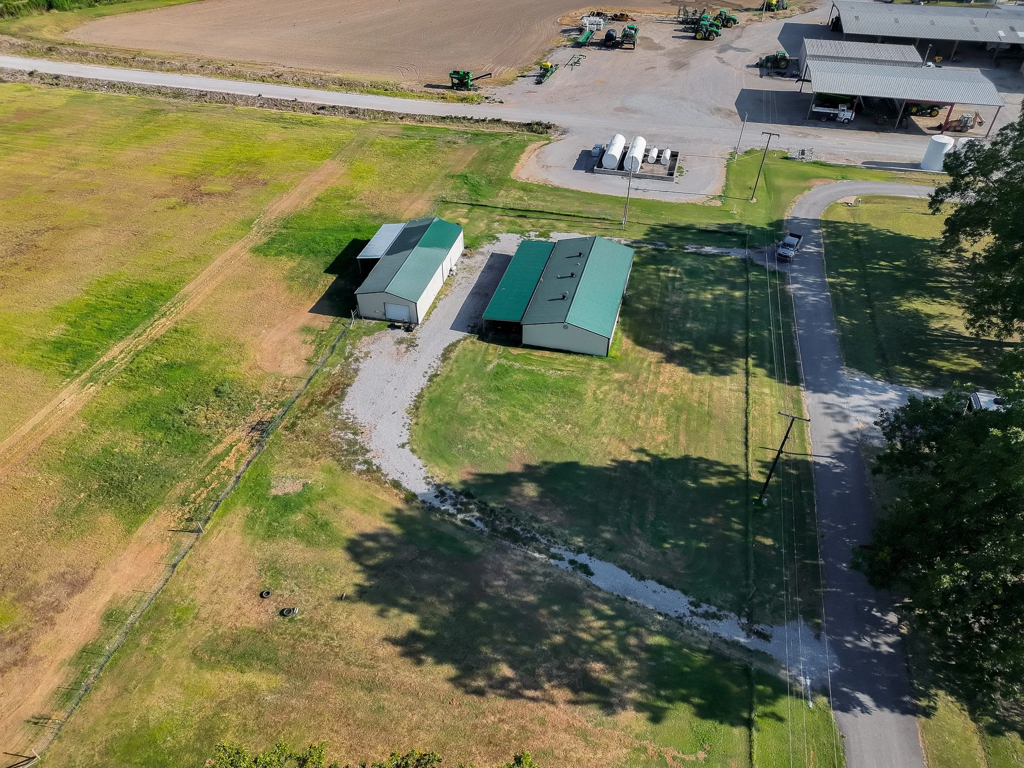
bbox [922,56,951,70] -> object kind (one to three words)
vehicle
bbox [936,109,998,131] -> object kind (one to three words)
work vehicle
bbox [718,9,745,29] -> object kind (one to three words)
work vehicle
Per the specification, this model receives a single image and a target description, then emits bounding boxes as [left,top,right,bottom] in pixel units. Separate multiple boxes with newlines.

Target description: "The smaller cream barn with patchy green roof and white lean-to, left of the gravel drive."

[352,215,464,329]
